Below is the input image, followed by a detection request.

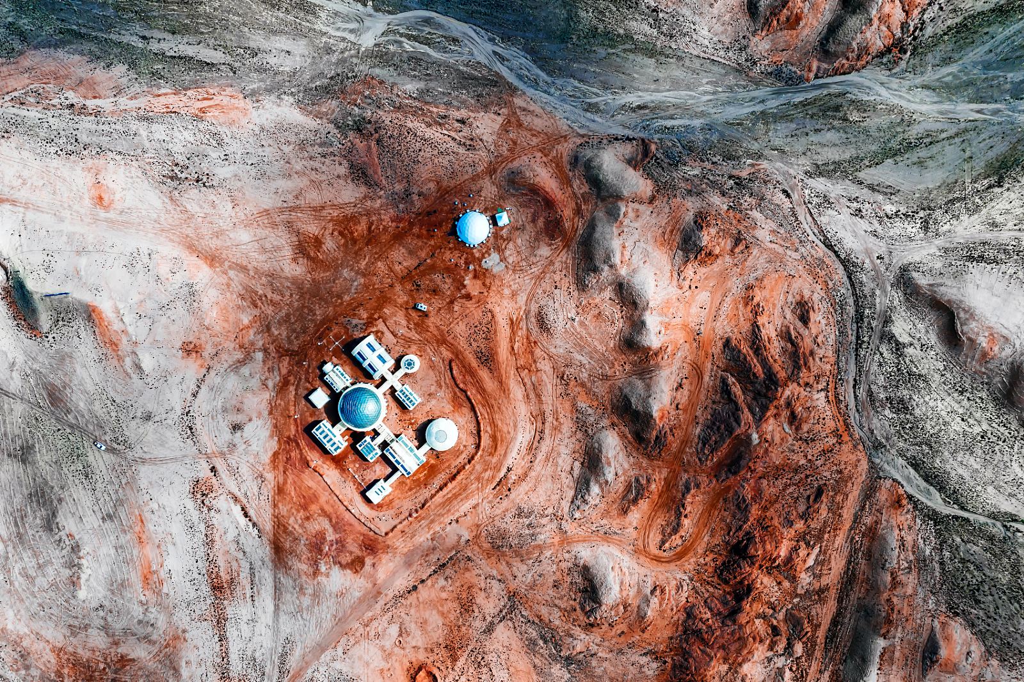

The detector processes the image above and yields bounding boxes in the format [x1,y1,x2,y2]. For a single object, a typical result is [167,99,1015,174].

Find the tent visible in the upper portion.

[456,212,490,245]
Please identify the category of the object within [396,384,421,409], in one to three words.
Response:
building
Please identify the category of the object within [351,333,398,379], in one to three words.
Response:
hangar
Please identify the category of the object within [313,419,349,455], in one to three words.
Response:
building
